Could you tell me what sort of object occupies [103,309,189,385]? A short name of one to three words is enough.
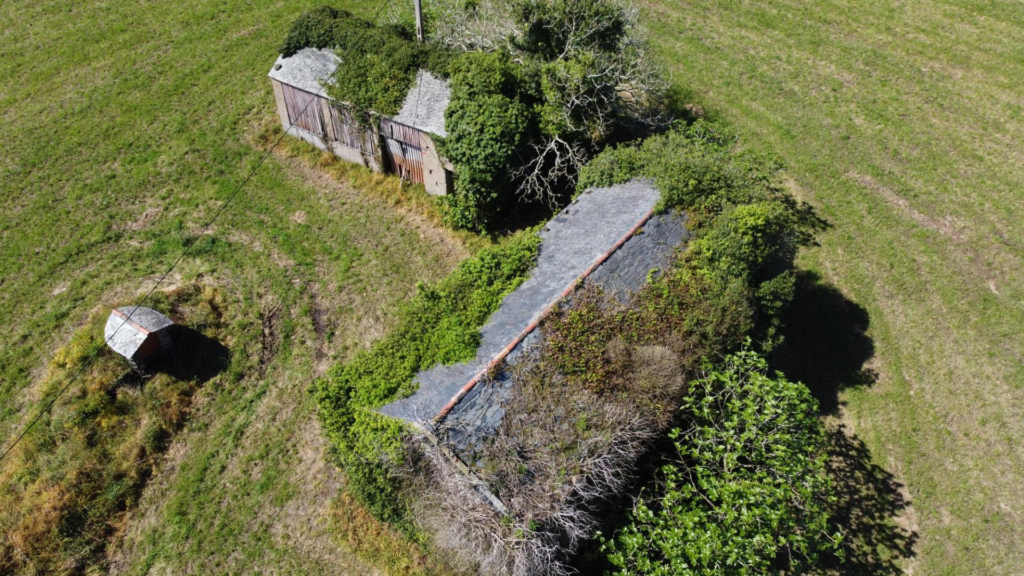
building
